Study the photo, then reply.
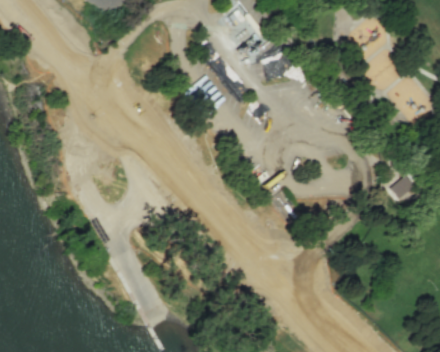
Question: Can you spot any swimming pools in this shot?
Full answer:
No, the scene contains no swimming pool.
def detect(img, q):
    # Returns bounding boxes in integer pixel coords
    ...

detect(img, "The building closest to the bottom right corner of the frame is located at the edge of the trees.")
[388,172,415,202]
